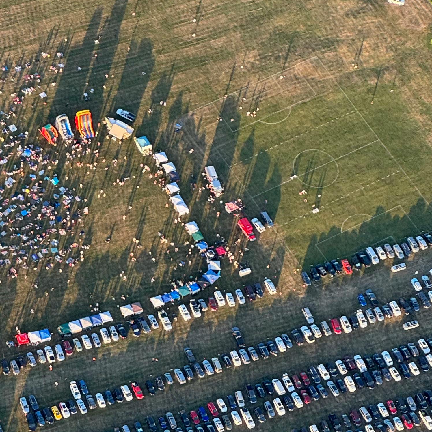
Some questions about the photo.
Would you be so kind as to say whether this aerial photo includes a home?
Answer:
No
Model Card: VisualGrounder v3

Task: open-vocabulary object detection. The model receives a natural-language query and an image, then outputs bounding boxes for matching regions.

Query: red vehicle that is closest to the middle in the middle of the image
[236,218,254,243]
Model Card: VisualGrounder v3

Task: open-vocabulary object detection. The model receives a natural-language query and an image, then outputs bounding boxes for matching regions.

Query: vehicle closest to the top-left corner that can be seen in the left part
[117,109,135,122]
